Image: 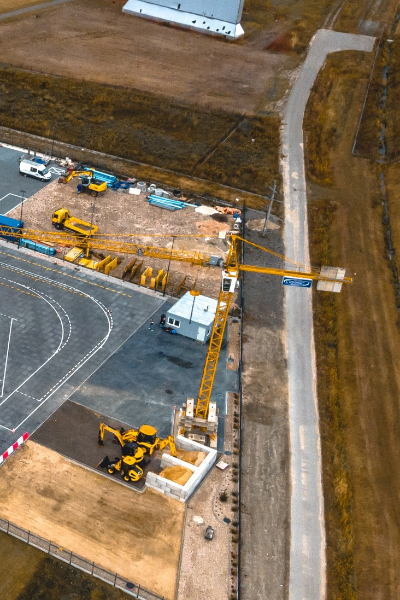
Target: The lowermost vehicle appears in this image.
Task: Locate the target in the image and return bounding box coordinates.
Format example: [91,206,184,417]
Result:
[97,453,144,485]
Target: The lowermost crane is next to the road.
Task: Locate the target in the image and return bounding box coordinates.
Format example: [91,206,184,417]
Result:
[0,222,352,460]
